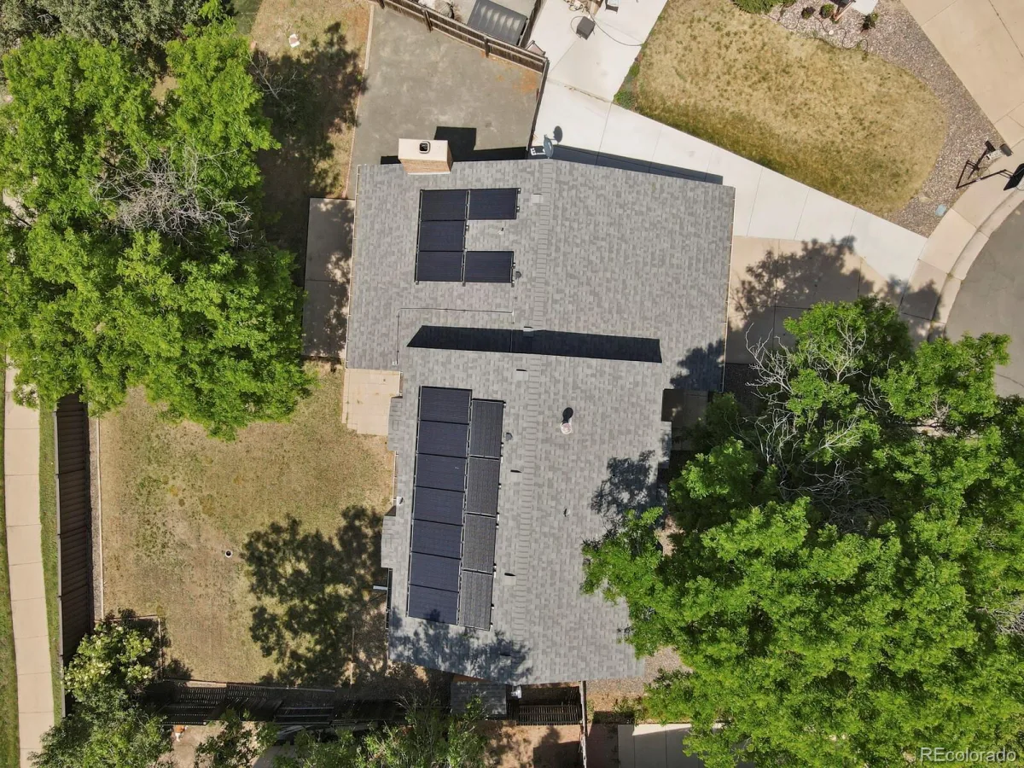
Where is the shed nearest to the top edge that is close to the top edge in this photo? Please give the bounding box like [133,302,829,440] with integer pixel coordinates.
[468,0,527,47]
